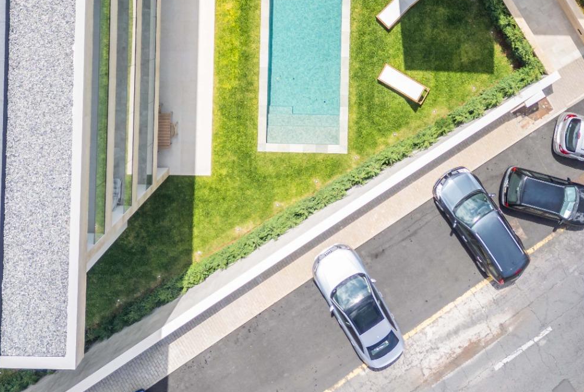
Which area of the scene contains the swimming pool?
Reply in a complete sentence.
You can find the swimming pool in the top area of the picture.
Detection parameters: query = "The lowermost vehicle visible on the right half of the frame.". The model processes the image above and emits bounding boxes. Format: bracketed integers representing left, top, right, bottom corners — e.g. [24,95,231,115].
[313,239,405,371]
